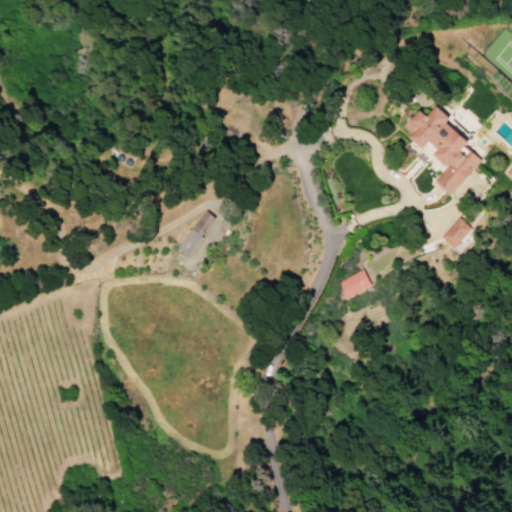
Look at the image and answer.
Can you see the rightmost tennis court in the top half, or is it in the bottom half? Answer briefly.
top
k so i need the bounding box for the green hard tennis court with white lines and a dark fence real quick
[486,34,512,80]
